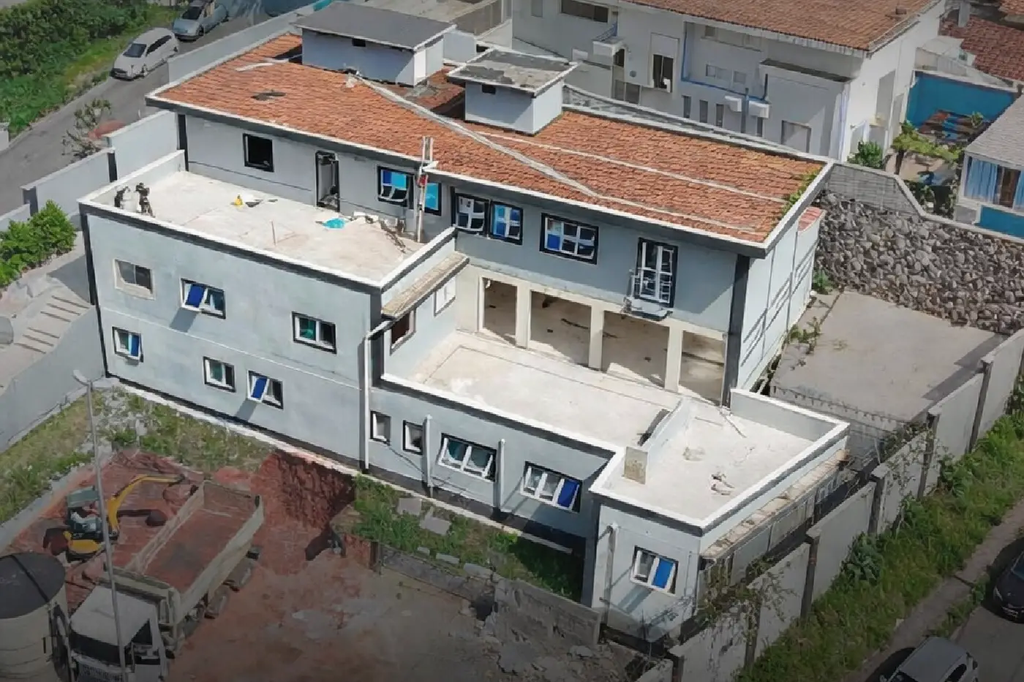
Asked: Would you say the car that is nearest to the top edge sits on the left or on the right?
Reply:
left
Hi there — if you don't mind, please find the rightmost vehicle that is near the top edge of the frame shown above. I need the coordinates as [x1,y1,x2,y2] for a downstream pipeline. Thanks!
[166,0,234,44]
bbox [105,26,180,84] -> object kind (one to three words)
car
